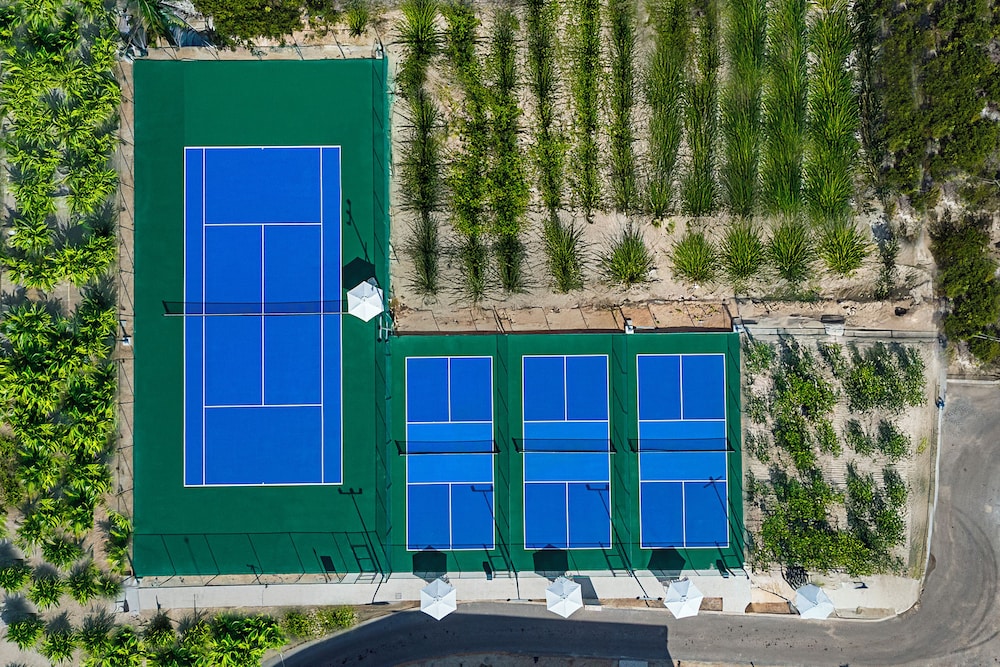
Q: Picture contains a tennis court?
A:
Yes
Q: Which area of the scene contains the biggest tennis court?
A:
left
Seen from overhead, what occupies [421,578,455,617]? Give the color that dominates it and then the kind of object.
white umbrella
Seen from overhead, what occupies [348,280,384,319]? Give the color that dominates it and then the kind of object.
white umbrella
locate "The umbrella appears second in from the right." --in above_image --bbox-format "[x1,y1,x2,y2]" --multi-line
[664,579,702,617]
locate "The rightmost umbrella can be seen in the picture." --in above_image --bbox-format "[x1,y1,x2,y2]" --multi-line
[793,584,829,621]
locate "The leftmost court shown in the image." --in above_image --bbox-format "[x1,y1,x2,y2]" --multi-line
[134,59,389,577]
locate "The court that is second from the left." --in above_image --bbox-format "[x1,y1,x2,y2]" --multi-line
[392,334,512,573]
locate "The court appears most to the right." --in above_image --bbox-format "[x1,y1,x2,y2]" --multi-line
[623,333,746,571]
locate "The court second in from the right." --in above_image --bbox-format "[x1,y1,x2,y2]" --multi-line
[508,334,629,572]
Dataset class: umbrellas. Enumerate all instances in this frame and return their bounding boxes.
[546,576,582,615]
[348,280,384,319]
[793,584,829,621]
[421,578,455,617]
[664,579,702,617]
